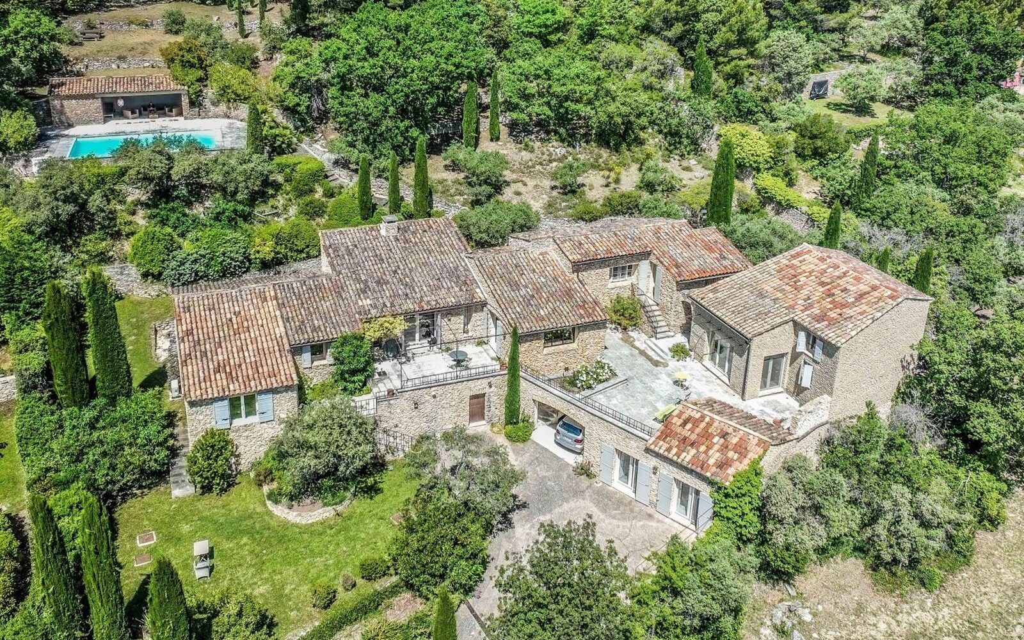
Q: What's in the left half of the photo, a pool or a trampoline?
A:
pool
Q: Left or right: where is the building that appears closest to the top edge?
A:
left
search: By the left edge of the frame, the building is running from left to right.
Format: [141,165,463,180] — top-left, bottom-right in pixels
[47,67,187,126]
